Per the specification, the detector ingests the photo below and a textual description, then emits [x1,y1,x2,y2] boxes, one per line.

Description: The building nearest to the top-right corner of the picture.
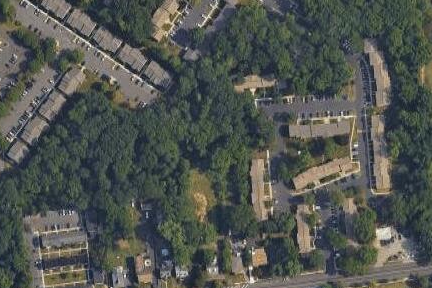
[362,39,390,105]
